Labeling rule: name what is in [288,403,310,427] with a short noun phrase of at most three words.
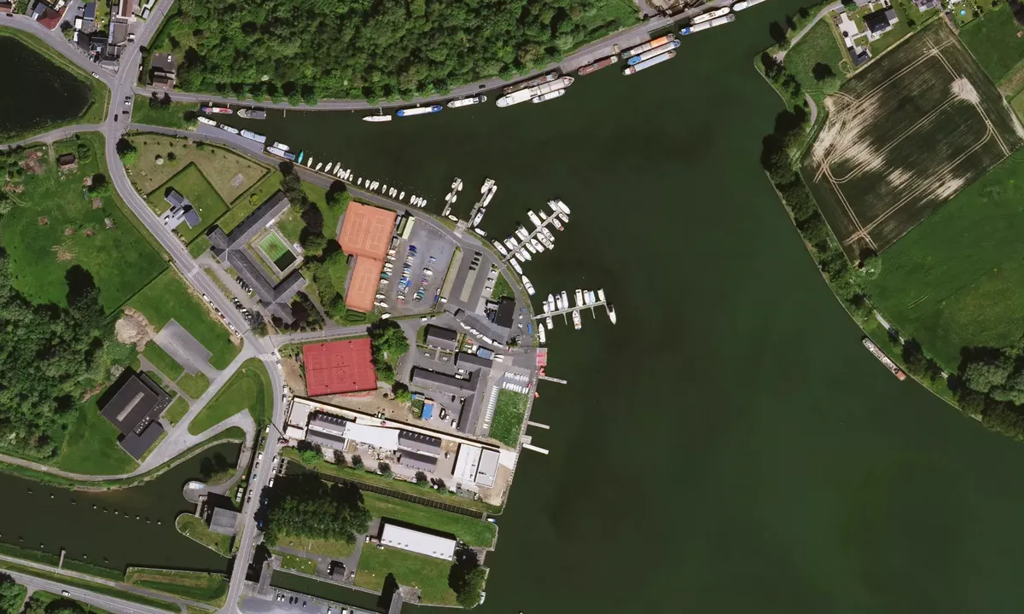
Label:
building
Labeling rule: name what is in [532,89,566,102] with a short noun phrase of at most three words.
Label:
boat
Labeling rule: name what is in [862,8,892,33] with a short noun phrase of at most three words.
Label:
house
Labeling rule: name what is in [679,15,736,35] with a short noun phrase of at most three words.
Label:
ship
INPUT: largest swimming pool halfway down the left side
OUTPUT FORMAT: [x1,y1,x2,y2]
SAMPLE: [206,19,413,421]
[252,226,304,278]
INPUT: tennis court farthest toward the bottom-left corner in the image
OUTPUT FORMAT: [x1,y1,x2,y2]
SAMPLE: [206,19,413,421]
[303,338,377,396]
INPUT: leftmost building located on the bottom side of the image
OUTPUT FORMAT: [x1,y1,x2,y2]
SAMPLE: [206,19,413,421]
[99,374,171,460]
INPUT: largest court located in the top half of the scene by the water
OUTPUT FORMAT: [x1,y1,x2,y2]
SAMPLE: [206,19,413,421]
[339,201,397,261]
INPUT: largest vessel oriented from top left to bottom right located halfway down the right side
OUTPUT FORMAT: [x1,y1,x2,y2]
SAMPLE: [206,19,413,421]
[862,339,907,380]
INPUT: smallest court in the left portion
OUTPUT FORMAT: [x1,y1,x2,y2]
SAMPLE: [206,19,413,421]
[347,258,383,312]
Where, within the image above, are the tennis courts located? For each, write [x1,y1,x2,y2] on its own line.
[303,338,377,396]
[339,201,397,261]
[347,258,383,312]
